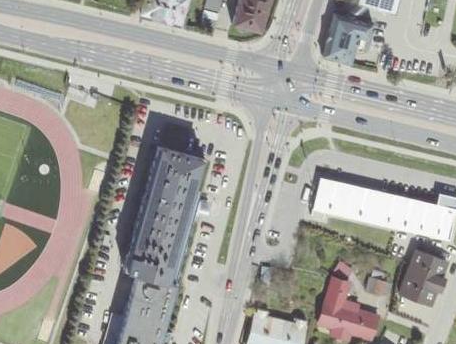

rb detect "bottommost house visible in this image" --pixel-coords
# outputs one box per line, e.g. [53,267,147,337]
[247,309,307,344]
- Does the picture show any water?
No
